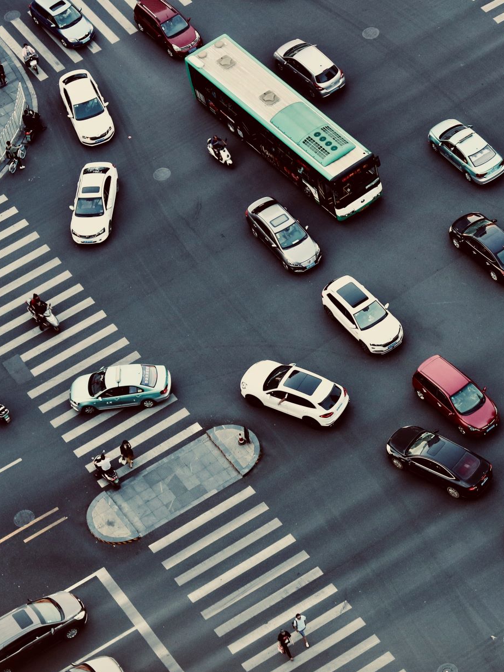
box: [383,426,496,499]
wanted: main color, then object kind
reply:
black car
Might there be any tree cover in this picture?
No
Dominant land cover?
paved ground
